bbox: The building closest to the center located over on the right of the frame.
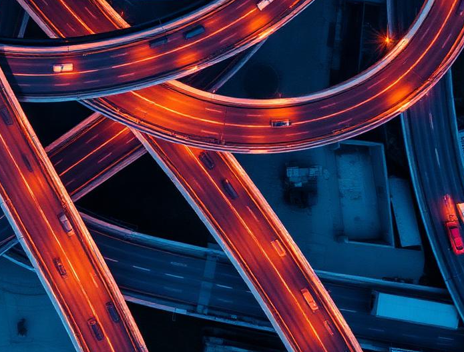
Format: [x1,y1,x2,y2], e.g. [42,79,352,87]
[283,160,323,187]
